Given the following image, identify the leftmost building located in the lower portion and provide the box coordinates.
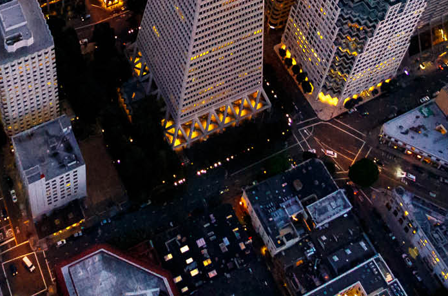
[11,108,108,247]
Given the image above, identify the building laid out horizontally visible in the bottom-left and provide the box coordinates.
[50,243,178,296]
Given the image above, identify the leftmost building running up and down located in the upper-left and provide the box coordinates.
[0,0,62,136]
